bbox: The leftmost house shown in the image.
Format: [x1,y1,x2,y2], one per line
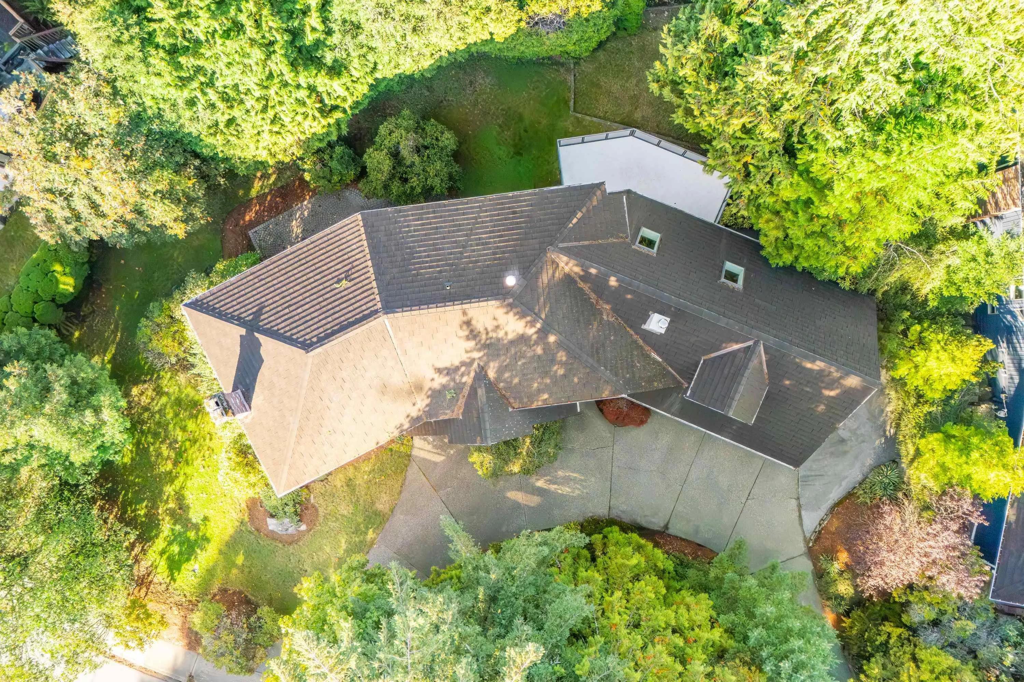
[179,180,879,499]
